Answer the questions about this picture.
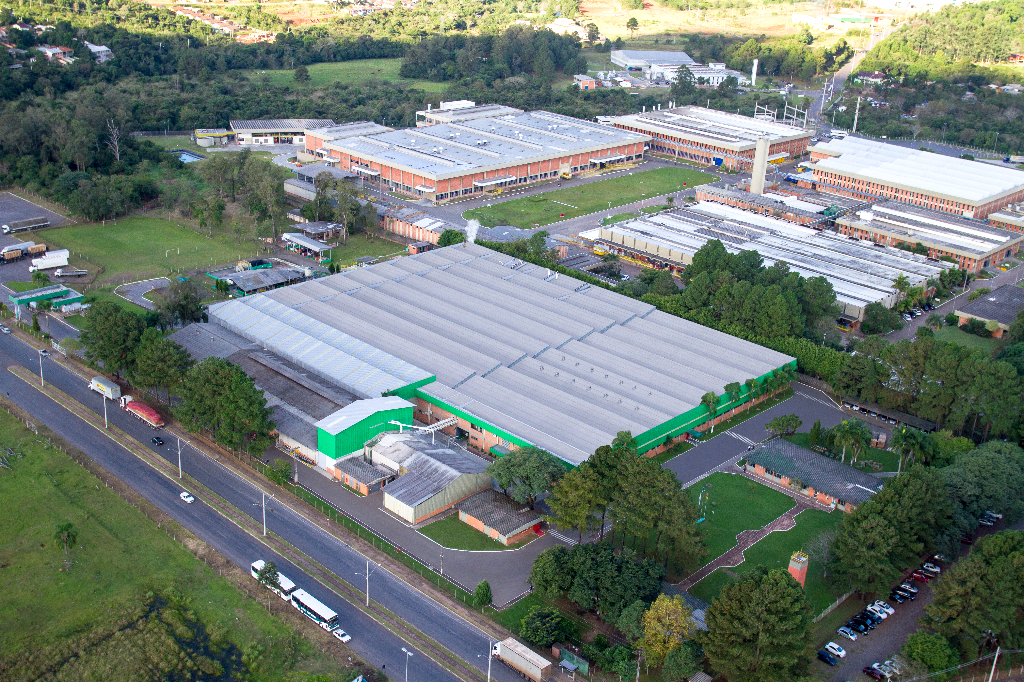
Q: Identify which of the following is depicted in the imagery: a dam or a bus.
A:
bus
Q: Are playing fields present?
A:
Yes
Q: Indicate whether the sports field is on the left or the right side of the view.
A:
left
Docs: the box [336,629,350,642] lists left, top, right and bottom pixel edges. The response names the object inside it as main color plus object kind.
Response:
white vehicle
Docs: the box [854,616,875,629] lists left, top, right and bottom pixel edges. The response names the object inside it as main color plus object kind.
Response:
black vehicle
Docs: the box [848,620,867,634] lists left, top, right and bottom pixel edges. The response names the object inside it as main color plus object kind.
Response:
black car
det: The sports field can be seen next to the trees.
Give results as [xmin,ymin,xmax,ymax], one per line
[22,216,249,280]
